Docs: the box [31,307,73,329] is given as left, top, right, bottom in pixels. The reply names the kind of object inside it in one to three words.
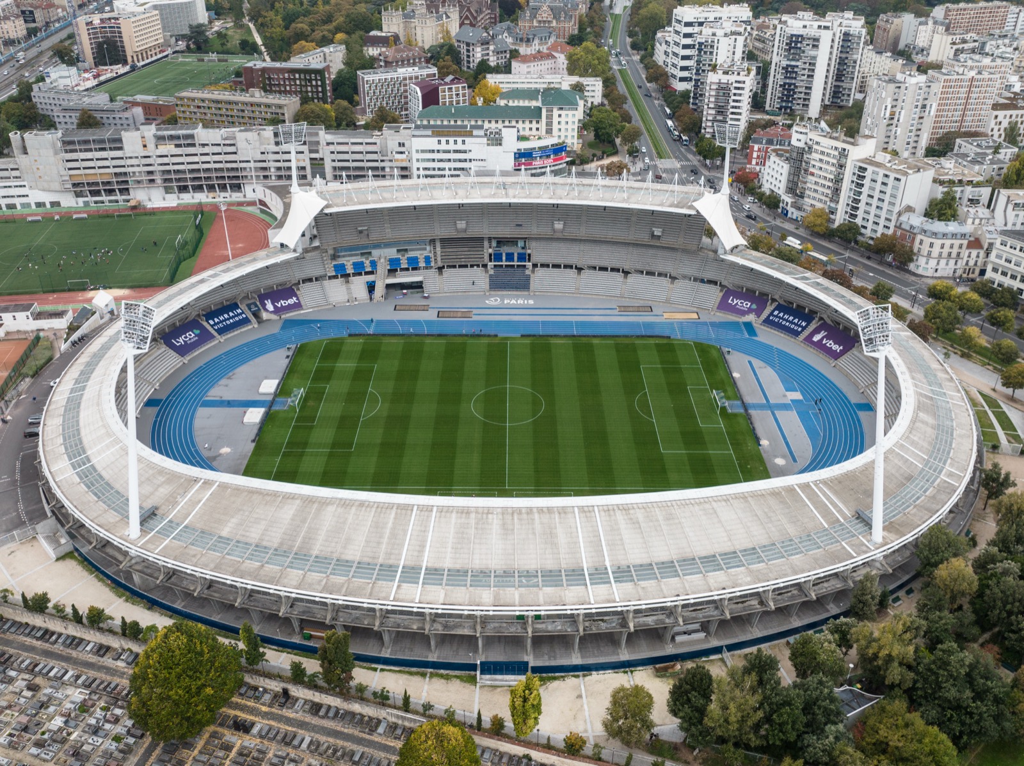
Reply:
building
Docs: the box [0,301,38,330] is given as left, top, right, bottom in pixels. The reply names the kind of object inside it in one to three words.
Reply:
building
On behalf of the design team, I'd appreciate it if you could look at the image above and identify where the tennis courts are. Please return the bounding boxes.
[0,339,31,382]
